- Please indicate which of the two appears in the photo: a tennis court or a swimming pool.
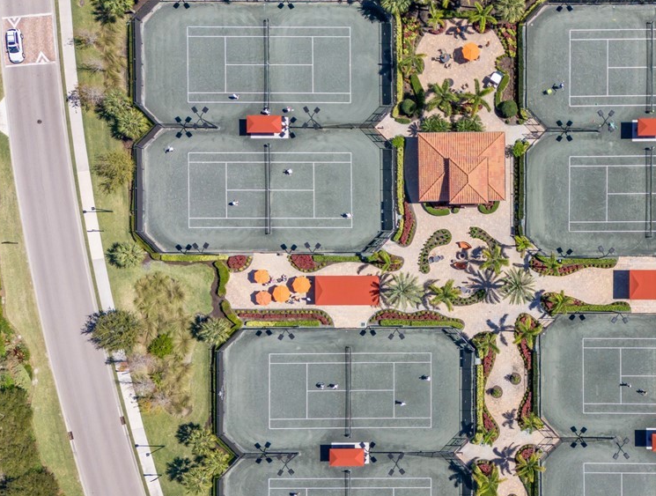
tennis court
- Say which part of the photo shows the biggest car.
top left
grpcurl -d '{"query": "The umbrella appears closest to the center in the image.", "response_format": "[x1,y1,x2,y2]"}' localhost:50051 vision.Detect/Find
[293,275,311,294]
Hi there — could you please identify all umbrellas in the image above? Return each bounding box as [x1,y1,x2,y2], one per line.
[463,45,479,61]
[293,275,311,294]
[254,268,271,284]
[255,290,273,306]
[273,285,291,303]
